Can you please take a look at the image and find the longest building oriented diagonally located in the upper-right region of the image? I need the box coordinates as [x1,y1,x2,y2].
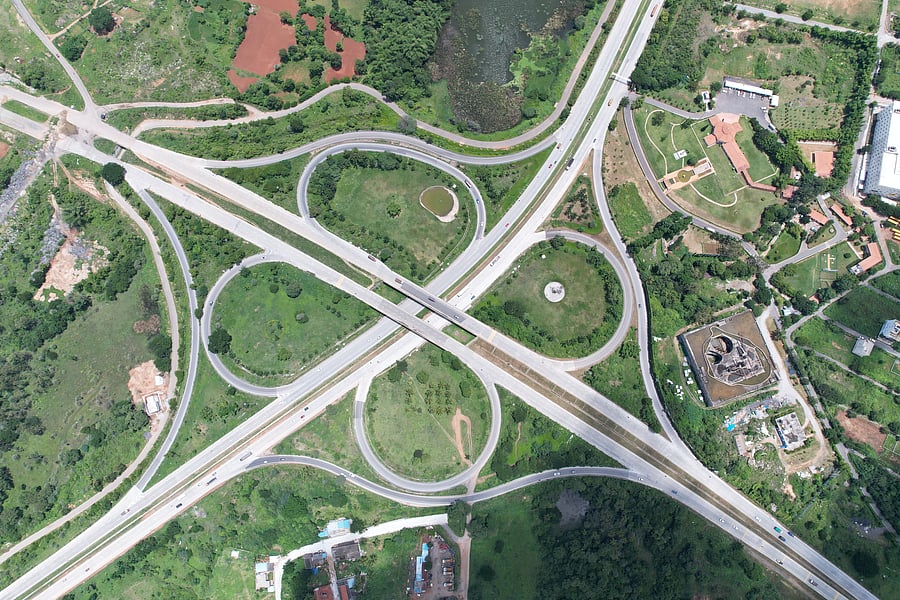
[702,117,795,199]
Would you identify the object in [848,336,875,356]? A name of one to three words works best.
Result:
building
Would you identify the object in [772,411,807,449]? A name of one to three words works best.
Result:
house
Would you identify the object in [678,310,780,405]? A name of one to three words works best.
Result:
building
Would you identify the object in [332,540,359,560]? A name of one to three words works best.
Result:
house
